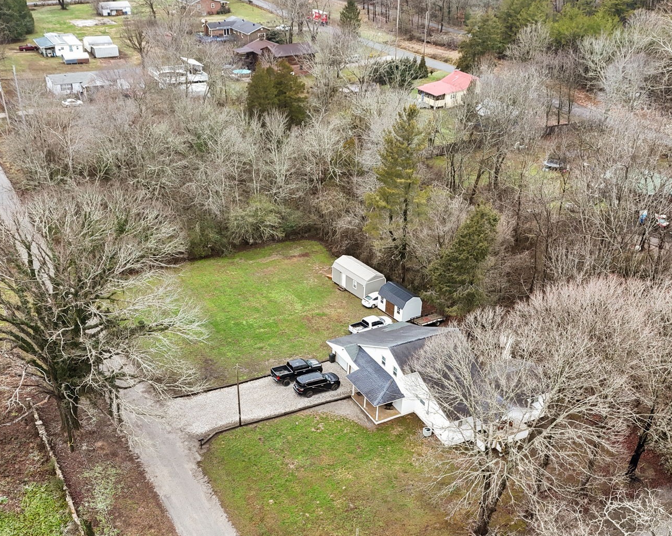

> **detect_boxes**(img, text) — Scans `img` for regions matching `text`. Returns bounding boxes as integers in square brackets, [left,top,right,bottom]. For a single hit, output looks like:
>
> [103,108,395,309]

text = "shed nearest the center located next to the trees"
[330,251,386,298]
